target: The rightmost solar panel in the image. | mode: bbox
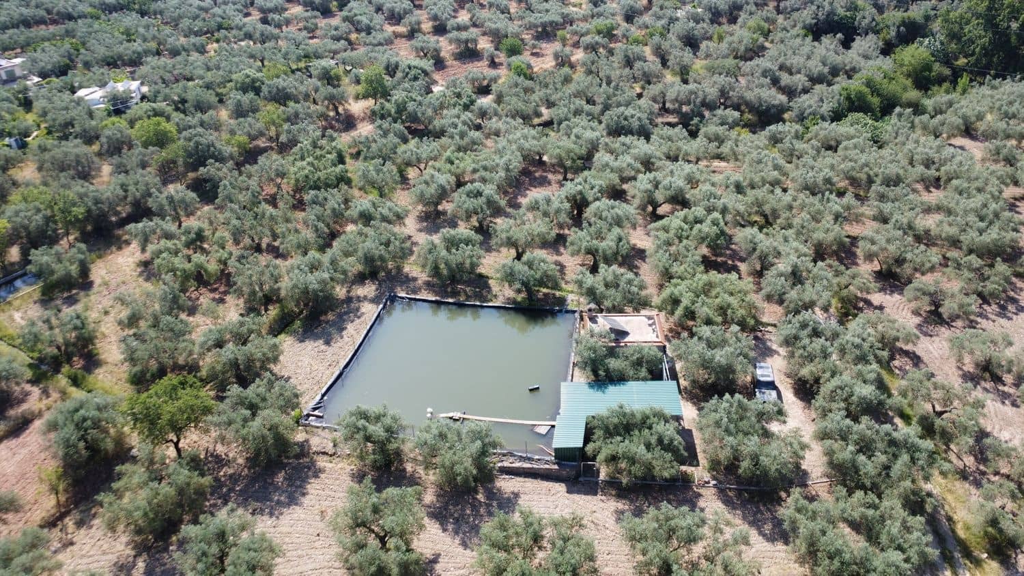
[600,316,630,341]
